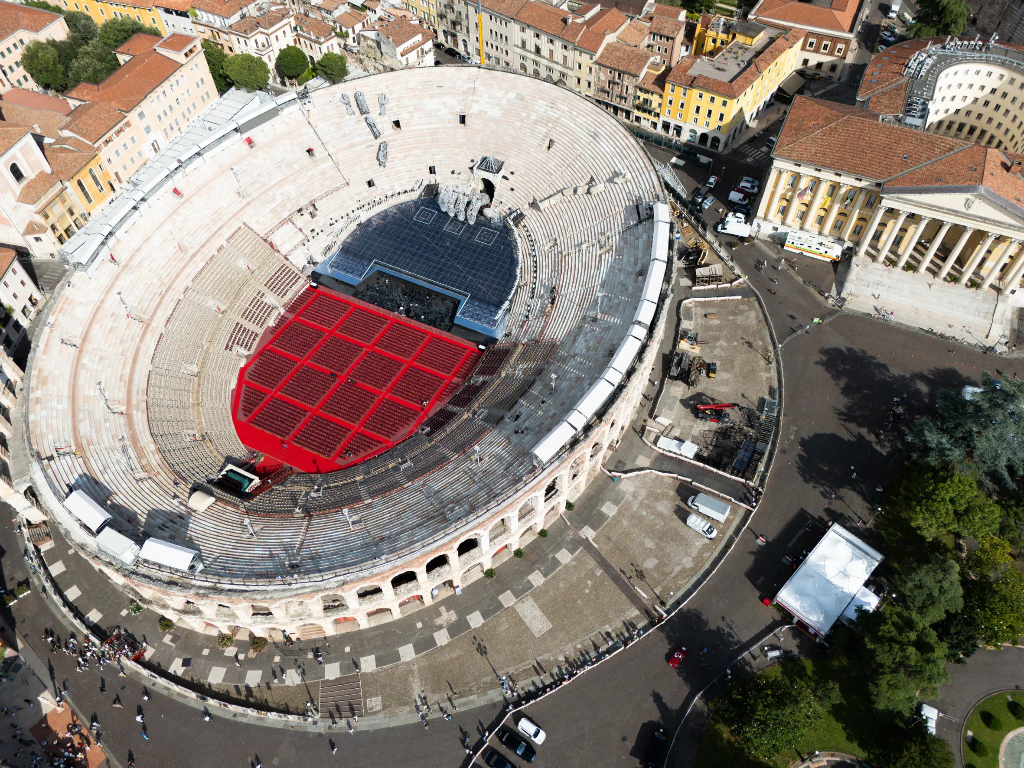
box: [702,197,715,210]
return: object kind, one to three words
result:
vehicle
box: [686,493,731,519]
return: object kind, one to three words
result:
truck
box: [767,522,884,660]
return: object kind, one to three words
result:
tent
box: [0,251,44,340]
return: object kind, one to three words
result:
house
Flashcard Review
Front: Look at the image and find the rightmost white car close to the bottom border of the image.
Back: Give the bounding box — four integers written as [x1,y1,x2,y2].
[514,714,549,749]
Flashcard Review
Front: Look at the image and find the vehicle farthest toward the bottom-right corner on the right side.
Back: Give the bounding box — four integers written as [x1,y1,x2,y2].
[669,641,692,671]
